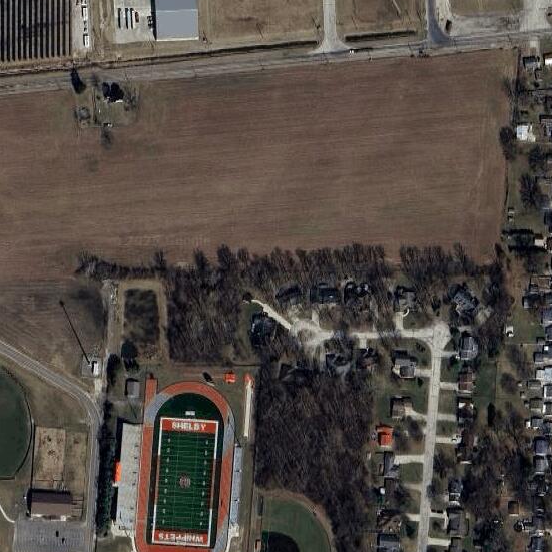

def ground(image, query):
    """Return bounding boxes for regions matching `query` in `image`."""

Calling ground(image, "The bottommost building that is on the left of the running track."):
[30,488,72,517]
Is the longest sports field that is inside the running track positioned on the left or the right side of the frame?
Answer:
left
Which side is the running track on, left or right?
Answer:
left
